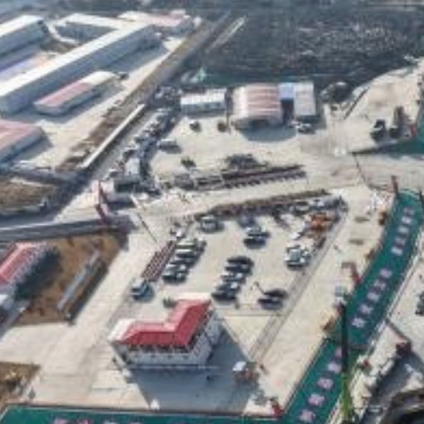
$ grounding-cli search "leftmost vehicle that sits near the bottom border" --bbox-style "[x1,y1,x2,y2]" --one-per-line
[267,386,283,415]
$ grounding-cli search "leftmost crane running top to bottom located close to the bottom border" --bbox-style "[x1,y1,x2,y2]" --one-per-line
[322,304,362,424]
